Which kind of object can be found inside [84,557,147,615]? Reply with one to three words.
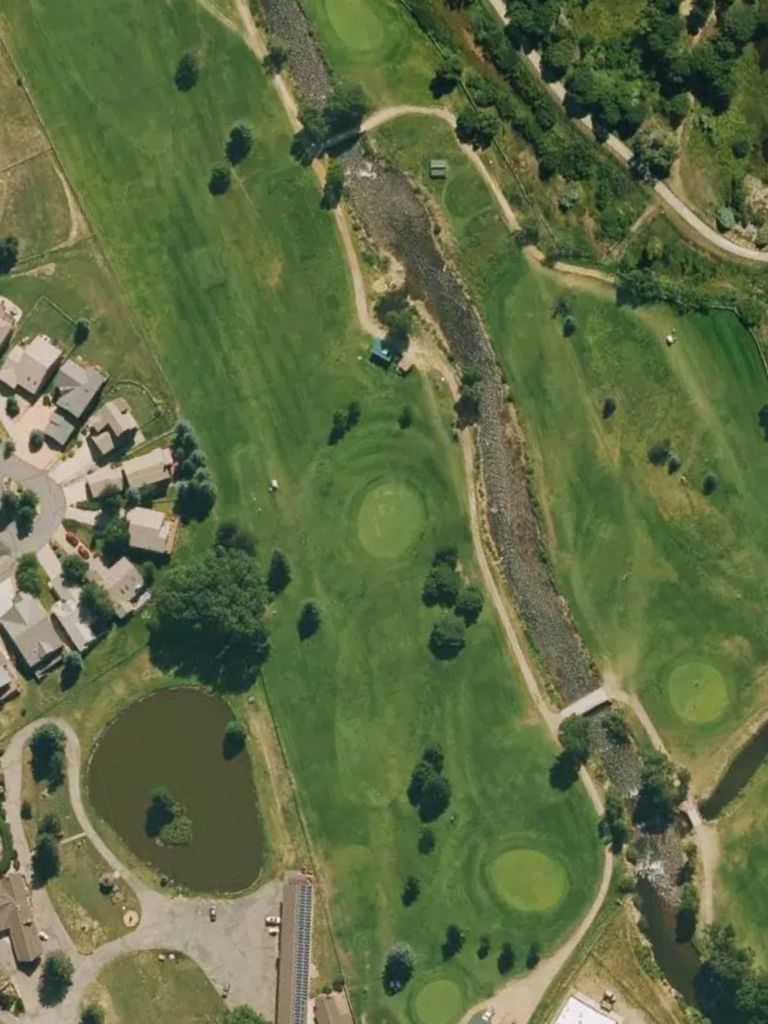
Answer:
house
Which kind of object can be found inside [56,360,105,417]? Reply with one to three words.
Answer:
house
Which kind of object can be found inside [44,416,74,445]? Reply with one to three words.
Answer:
building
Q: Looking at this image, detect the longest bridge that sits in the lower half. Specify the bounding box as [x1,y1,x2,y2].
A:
[558,690,609,721]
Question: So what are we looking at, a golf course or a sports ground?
golf course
